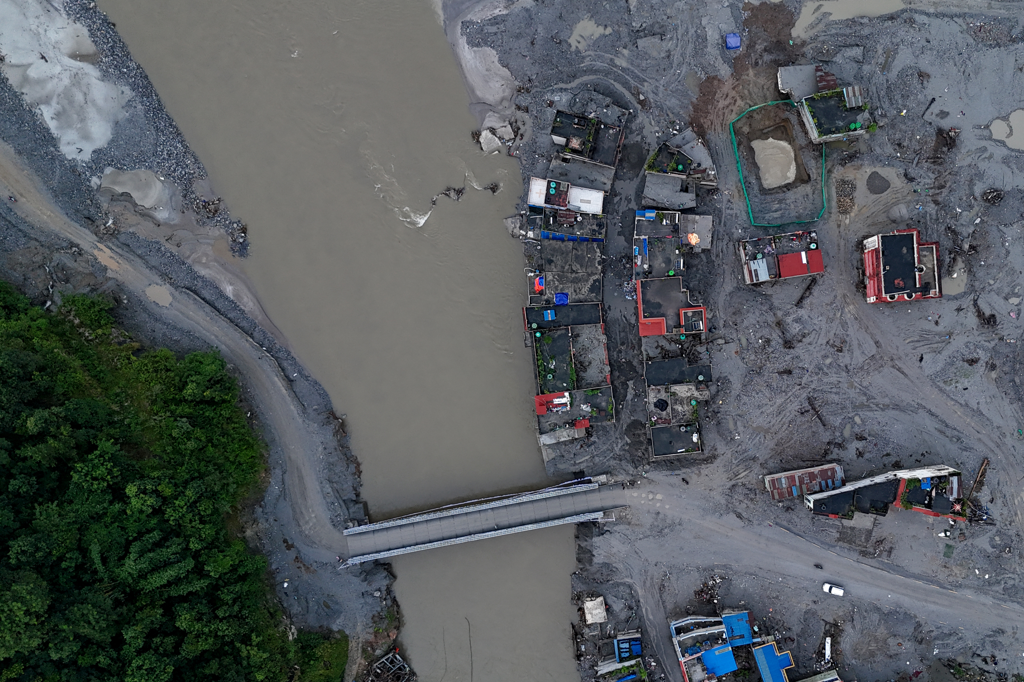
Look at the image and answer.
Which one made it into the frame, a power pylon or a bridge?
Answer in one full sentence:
This aerial view contains a bridge.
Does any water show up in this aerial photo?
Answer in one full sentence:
Yes, the picture does contain water.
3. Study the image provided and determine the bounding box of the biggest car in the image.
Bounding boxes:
[824,584,846,599]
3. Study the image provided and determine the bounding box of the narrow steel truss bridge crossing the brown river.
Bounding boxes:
[339,480,630,569]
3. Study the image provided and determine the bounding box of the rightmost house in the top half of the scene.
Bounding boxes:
[852,228,943,304]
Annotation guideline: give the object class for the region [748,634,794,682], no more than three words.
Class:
house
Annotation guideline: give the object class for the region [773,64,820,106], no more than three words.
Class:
house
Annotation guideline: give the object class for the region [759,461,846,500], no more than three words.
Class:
shed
